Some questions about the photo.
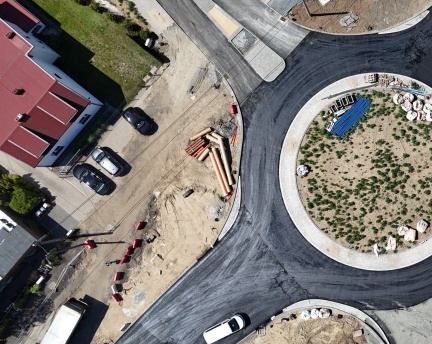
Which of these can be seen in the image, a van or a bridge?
van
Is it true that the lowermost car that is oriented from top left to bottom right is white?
No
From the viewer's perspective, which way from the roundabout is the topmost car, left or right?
left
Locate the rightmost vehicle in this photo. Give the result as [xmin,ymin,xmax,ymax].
[202,314,245,343]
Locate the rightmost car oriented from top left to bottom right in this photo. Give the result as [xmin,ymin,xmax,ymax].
[125,106,157,136]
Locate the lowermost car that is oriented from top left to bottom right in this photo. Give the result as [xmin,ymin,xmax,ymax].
[77,163,112,194]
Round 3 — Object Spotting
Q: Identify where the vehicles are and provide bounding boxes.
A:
[202,314,245,343]
[77,163,112,194]
[41,299,92,344]
[91,147,126,176]
[125,106,157,136]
